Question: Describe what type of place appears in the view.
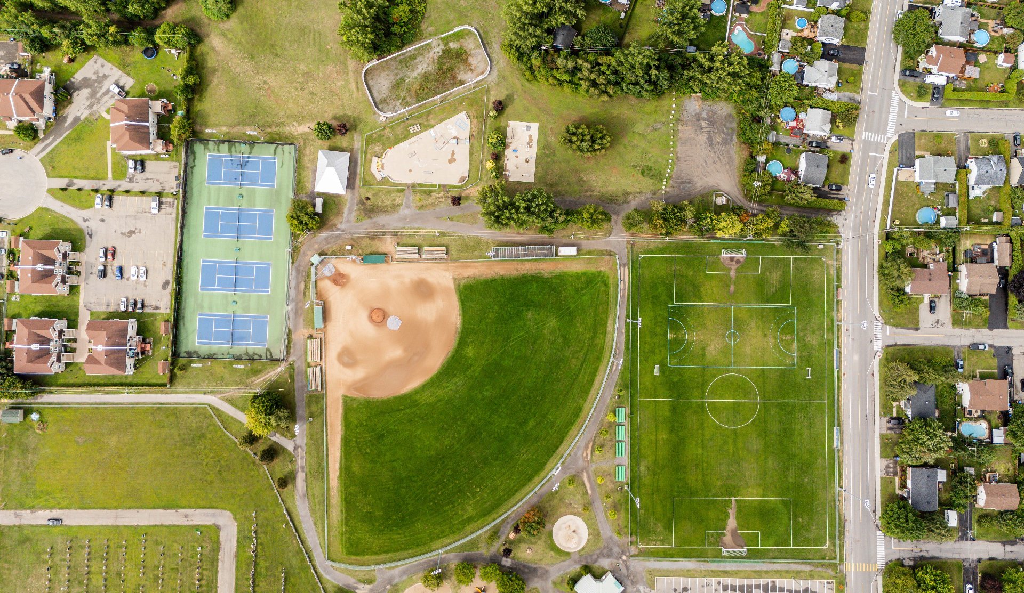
sports ground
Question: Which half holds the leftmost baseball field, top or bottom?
bottom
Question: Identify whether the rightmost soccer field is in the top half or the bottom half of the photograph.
bottom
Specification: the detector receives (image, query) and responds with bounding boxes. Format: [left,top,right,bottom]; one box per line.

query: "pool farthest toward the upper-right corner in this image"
[972,30,989,47]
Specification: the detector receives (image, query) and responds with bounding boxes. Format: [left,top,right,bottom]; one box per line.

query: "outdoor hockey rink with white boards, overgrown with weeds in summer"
[361,25,492,117]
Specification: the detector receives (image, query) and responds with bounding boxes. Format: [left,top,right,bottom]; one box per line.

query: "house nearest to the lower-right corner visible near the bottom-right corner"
[979,483,1024,511]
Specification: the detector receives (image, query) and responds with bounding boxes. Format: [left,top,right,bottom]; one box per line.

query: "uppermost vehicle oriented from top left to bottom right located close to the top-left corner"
[110,84,127,97]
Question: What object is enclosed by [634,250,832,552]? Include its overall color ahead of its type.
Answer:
green soccer field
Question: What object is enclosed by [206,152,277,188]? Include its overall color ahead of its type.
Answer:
blue tennis court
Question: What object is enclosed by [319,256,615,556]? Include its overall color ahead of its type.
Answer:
green baseball field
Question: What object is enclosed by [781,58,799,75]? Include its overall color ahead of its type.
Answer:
blue swimming pool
